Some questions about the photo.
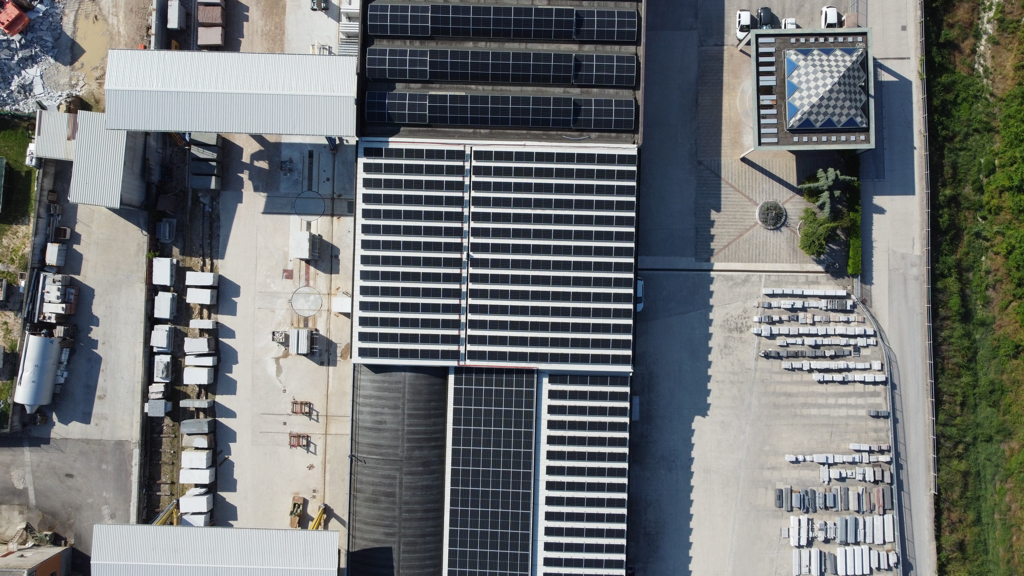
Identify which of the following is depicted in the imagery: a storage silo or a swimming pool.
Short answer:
storage silo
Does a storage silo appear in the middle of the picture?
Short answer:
No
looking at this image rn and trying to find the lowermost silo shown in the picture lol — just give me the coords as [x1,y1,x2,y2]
[14,334,64,412]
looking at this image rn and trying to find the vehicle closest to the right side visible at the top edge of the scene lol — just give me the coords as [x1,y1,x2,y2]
[822,3,841,28]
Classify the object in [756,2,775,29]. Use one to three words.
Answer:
car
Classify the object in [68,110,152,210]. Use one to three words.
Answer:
shed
